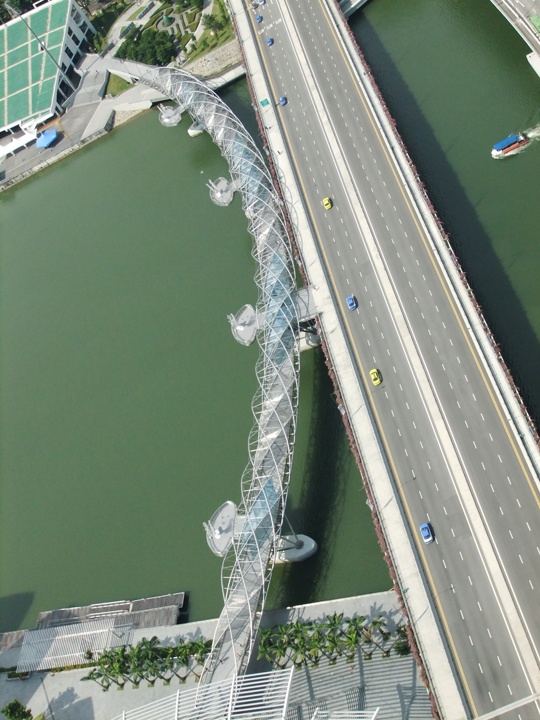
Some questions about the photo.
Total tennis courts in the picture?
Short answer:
none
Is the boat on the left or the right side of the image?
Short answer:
right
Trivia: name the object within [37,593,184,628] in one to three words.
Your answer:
pier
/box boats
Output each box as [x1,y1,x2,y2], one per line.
[491,133,530,155]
